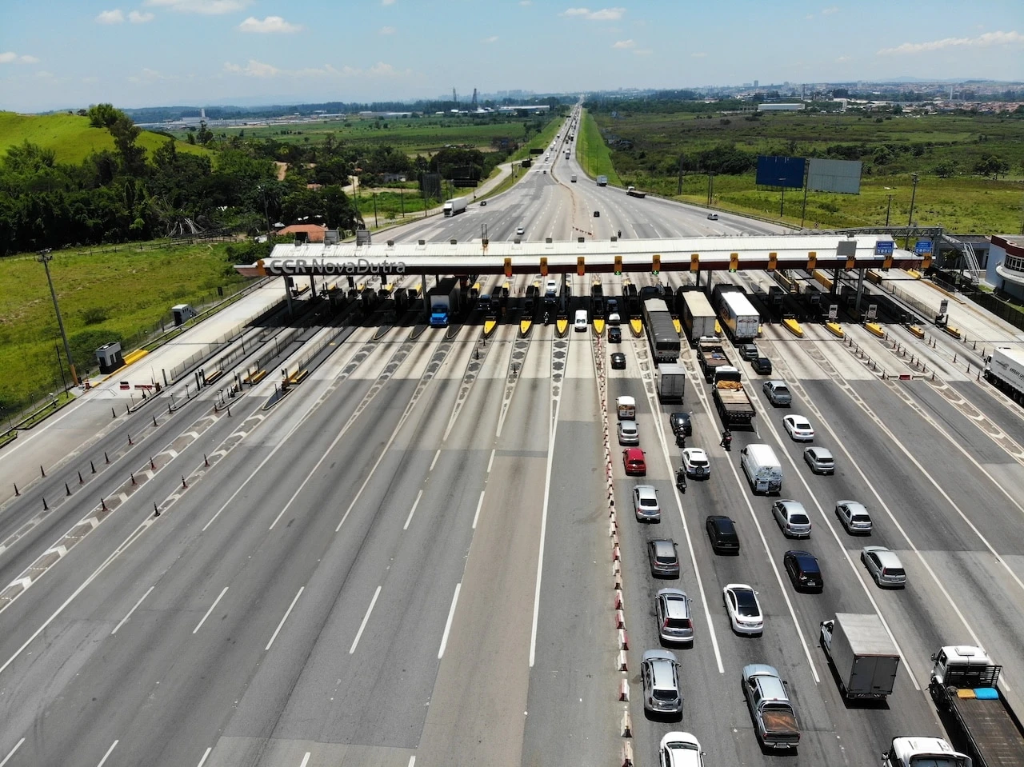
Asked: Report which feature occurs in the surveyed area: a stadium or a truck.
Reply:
truck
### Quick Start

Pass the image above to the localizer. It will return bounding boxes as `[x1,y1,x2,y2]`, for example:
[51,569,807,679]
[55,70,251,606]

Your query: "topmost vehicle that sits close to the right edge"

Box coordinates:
[982,351,1024,401]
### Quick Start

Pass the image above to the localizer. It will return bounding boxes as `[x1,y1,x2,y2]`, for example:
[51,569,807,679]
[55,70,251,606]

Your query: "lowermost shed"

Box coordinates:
[87,345,127,378]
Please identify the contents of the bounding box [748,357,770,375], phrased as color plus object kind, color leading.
black car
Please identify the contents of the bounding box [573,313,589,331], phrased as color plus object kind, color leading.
white vehicle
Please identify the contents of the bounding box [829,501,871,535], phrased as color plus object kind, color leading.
gray car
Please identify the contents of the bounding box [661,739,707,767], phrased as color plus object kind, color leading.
white car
